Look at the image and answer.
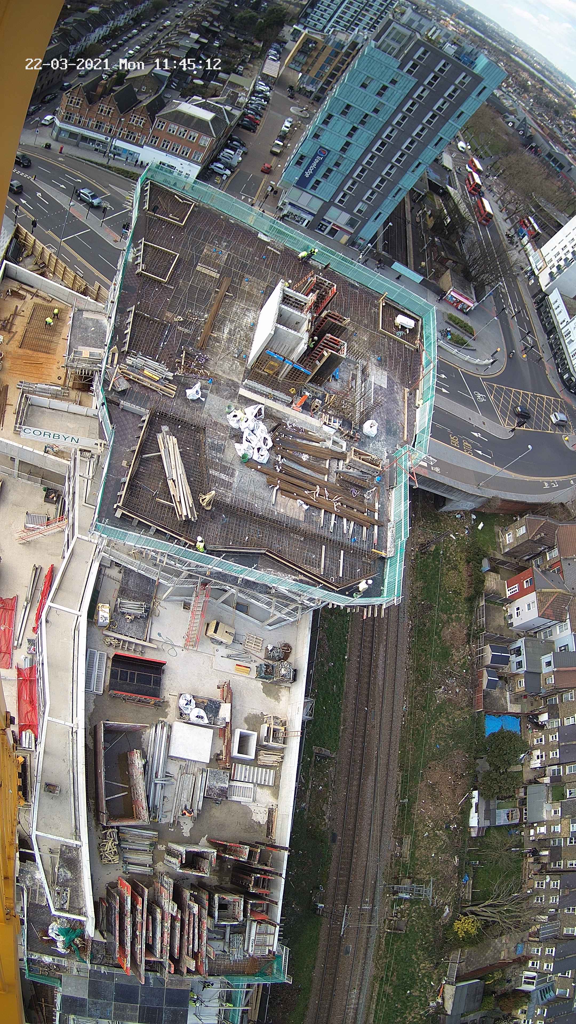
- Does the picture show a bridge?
Yes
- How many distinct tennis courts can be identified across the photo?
none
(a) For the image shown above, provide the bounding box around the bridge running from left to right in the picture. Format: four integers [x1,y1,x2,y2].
[402,472,491,523]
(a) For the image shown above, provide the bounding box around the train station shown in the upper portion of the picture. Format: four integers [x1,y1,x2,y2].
[370,166,461,288]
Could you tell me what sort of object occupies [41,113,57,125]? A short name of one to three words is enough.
vehicle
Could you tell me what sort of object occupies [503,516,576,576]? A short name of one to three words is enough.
house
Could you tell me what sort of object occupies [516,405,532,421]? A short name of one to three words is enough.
car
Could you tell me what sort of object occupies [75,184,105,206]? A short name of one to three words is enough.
car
